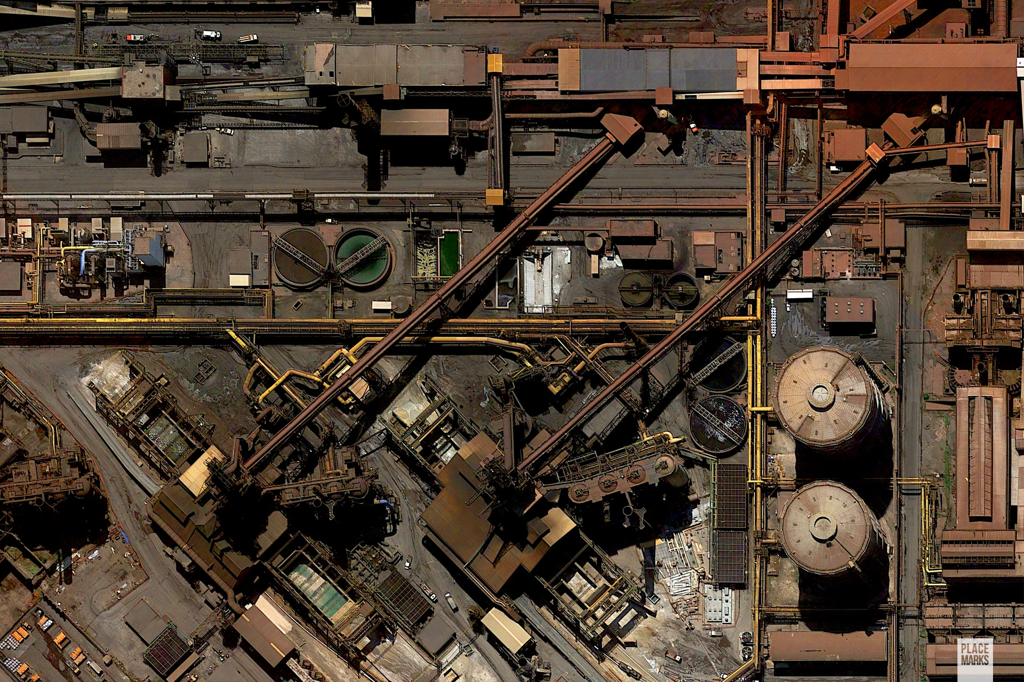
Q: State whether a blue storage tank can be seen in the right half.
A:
No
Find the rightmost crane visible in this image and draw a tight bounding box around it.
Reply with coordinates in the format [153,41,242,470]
[571,569,622,621]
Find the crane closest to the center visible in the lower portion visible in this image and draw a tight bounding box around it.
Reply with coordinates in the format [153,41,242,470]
[413,409,466,460]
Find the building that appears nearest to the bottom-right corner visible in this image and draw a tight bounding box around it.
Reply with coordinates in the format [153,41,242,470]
[926,644,1024,677]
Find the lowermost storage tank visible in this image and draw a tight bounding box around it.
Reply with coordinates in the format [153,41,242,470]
[779,481,884,587]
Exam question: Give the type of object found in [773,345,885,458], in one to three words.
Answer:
storage tank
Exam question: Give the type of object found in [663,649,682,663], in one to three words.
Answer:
vehicle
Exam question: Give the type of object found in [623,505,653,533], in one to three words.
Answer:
chimney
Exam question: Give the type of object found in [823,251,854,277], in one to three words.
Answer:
building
